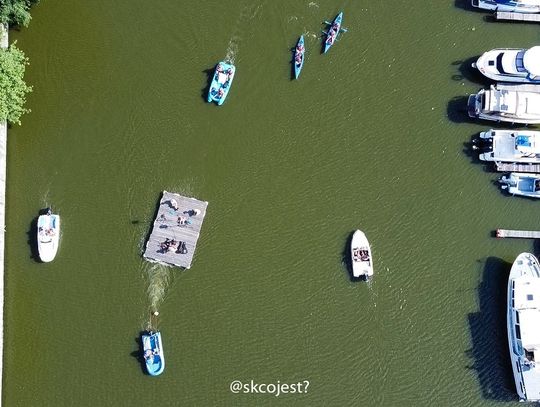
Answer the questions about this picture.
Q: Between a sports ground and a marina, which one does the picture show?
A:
marina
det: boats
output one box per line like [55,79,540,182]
[141,331,162,378]
[470,46,540,86]
[465,85,540,124]
[472,129,540,164]
[324,11,342,53]
[352,229,374,282]
[502,250,540,407]
[470,0,540,13]
[208,56,235,105]
[498,172,540,198]
[34,210,58,263]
